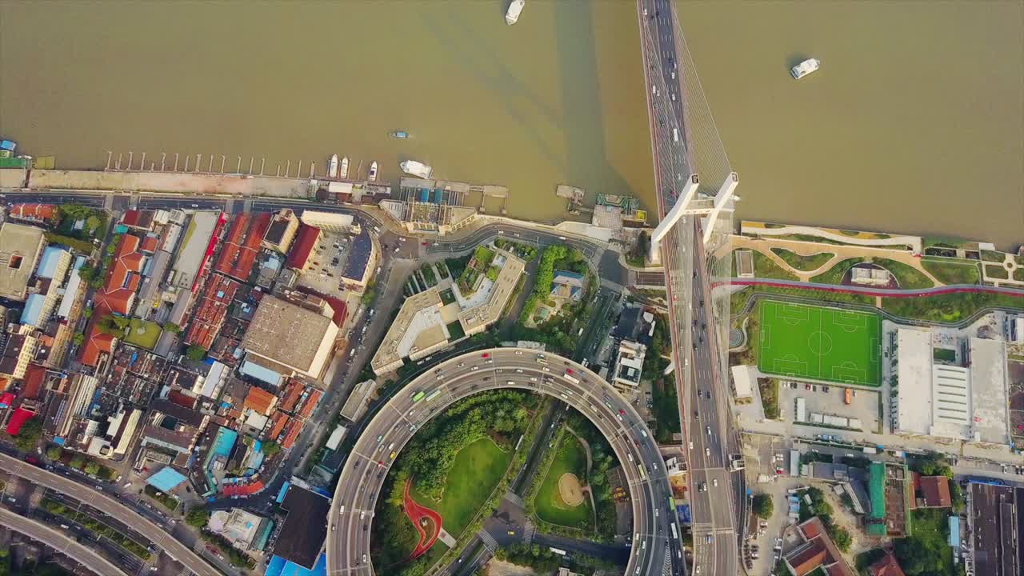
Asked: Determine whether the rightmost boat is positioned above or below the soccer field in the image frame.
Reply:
above it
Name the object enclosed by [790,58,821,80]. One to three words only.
boat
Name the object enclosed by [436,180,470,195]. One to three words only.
pier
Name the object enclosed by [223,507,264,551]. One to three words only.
house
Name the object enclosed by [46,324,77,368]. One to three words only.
building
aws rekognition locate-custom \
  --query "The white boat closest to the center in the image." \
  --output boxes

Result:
[400,160,433,180]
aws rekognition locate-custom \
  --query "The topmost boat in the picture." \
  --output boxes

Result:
[507,0,527,25]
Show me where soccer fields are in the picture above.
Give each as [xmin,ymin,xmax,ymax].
[758,299,882,387]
